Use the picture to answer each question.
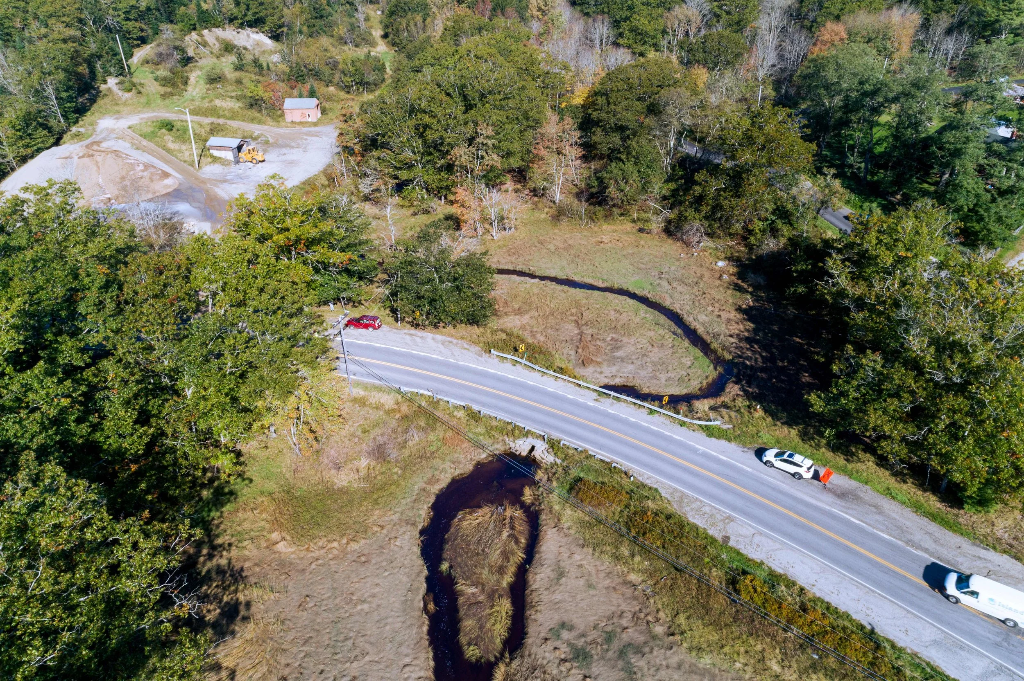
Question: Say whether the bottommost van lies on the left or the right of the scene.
right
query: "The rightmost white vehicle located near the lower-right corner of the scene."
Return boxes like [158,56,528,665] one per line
[943,572,1024,629]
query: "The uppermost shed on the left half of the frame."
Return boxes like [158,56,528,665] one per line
[283,97,326,120]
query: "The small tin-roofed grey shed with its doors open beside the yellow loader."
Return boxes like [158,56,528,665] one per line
[204,131,261,163]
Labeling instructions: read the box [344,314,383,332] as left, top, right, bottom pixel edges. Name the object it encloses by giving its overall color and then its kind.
red car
